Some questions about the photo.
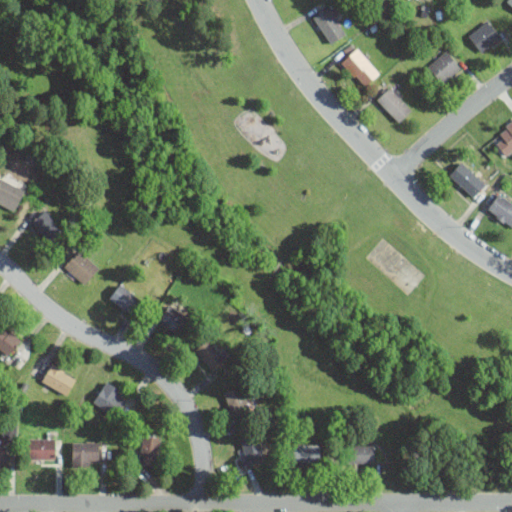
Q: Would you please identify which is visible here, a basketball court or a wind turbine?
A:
basketball court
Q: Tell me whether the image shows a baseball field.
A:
No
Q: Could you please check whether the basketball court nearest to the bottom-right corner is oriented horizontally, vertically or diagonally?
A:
diagonally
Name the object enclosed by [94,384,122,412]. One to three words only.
house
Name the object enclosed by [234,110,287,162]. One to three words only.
playground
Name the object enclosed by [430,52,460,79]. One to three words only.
house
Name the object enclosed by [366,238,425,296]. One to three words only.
basketball court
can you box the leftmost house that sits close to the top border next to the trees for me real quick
[314,9,346,44]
